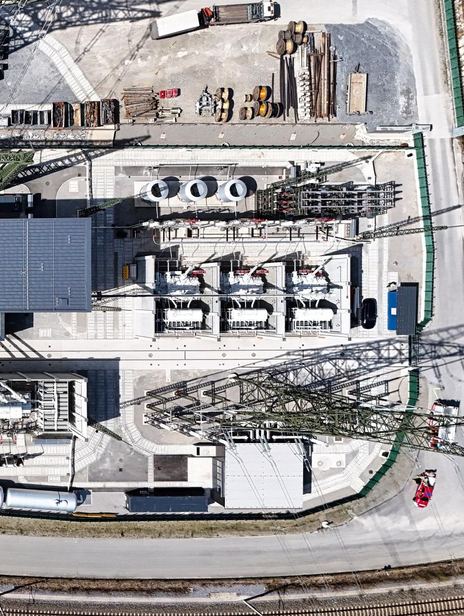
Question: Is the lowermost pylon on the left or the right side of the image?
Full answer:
You can find the lowermost pylon on the right side of the picture.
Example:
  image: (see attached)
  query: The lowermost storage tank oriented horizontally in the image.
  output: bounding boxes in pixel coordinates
[6,484,78,513]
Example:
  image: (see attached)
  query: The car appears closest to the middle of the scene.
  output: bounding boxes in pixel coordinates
[358,297,377,329]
